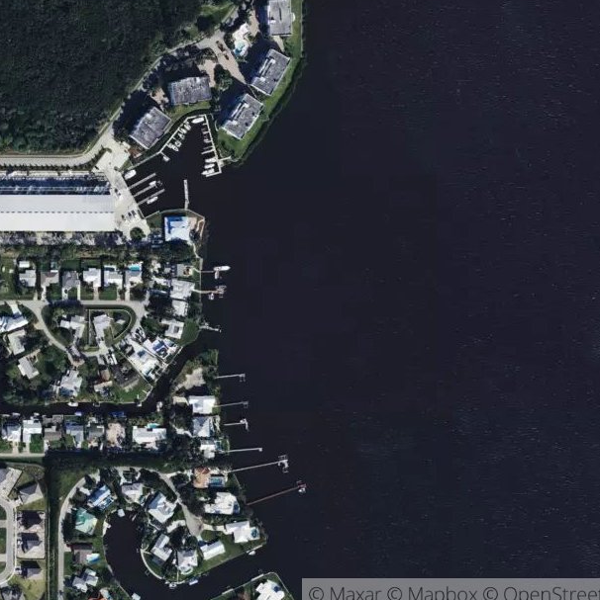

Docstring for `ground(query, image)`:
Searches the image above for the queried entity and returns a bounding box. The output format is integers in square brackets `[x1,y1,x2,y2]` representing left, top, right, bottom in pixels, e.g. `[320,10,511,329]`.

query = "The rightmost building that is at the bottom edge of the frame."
[255,577,287,600]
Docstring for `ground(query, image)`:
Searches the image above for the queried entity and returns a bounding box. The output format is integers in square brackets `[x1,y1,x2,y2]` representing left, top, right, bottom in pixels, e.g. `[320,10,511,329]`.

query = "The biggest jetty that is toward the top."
[128,114,223,178]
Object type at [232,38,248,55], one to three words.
swimming pool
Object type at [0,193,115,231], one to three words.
shed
